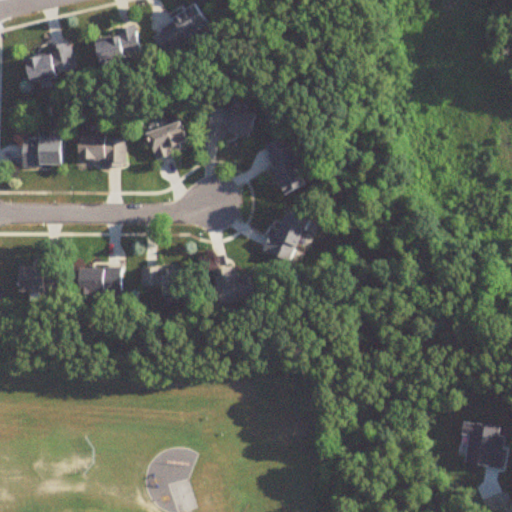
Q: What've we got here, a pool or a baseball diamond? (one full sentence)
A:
This aerial view contains a baseball diamond.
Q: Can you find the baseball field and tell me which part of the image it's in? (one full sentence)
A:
You can find the baseball field in the bottom left area of the picture.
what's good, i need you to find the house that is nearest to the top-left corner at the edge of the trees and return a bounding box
[27,42,74,77]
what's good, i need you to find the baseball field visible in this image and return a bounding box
[28,436,100,502]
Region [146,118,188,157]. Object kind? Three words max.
house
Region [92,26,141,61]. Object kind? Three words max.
house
